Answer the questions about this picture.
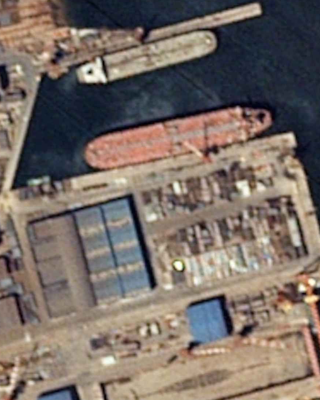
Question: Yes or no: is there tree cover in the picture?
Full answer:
No, the picture contains no tree cover.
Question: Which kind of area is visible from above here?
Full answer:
What you see here is a port.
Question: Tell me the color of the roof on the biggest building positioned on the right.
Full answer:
From above, the roof of the biggest building positioned on the right looks blue.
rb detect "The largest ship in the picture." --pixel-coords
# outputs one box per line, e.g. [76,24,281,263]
[84,102,274,167]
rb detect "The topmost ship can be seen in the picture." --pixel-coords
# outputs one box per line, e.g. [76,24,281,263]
[78,37,217,85]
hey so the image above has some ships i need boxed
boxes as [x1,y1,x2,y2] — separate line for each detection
[84,102,274,167]
[78,37,217,85]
